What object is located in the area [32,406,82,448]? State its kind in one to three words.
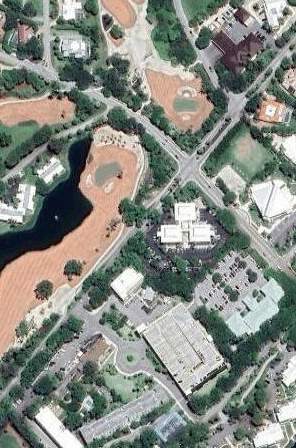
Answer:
building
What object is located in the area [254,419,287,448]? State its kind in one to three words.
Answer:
building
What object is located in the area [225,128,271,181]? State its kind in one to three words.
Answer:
sports field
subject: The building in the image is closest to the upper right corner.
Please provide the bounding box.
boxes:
[262,0,289,28]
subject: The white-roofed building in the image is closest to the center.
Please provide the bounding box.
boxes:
[160,224,183,244]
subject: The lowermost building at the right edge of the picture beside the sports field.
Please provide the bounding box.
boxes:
[250,180,296,220]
